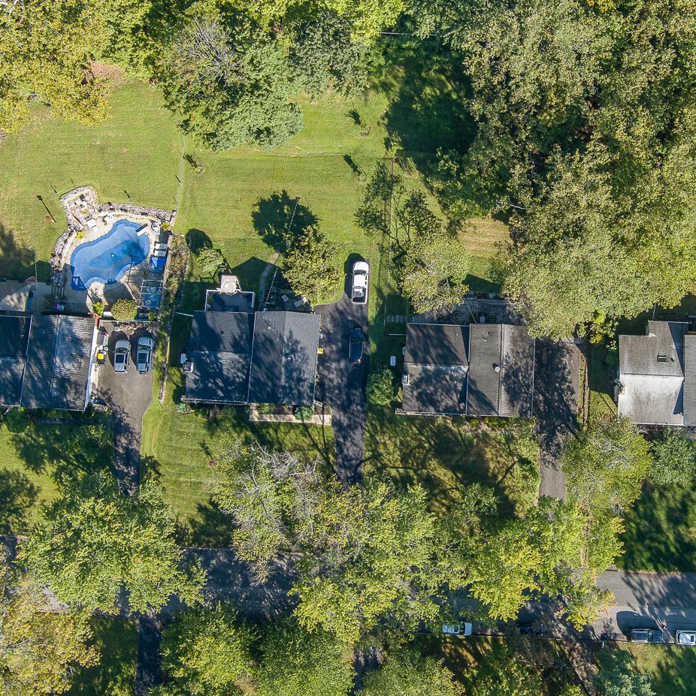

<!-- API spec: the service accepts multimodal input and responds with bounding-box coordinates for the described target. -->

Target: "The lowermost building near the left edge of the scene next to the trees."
[0,313,107,413]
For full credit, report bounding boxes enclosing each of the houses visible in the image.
[182,309,324,407]
[610,320,696,428]
[0,313,107,413]
[401,322,535,419]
